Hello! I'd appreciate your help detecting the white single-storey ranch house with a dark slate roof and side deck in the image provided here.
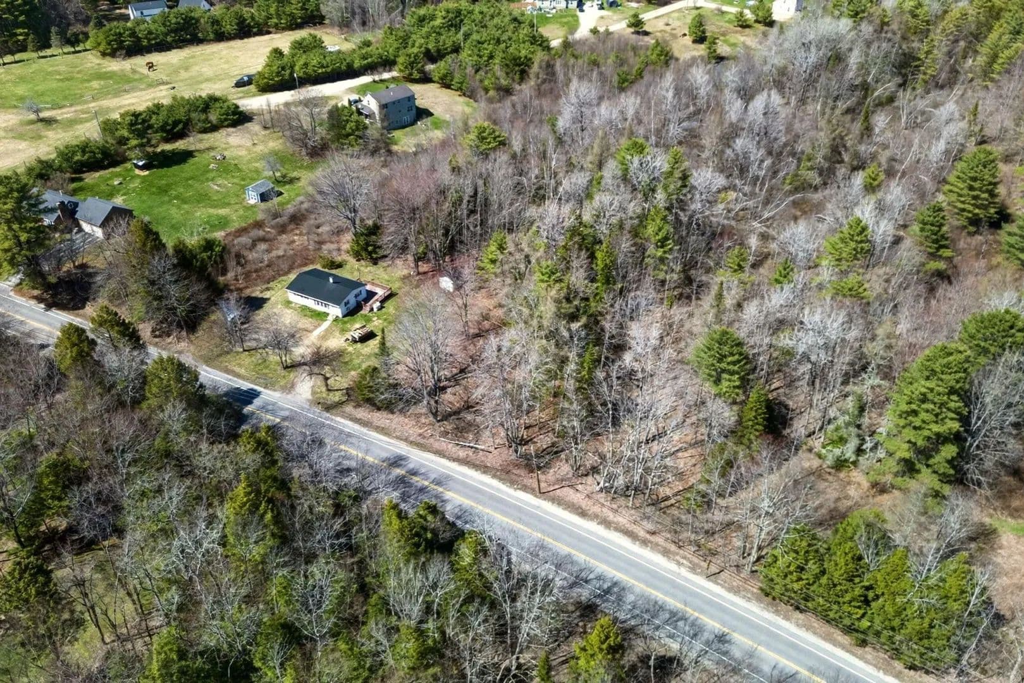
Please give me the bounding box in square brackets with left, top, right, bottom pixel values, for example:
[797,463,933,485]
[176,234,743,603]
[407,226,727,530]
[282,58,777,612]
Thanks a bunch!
[283,267,390,321]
